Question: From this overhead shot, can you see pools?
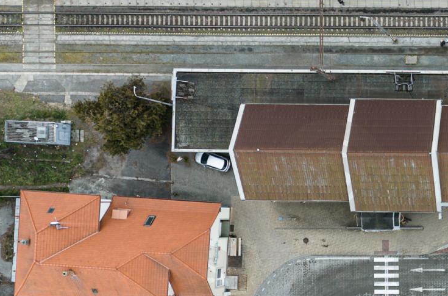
No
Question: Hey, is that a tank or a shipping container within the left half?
shipping container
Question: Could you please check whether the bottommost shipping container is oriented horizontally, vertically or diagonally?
horizontally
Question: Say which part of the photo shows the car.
center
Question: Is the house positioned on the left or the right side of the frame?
left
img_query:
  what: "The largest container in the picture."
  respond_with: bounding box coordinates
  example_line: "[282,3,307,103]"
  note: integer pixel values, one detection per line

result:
[5,120,83,146]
